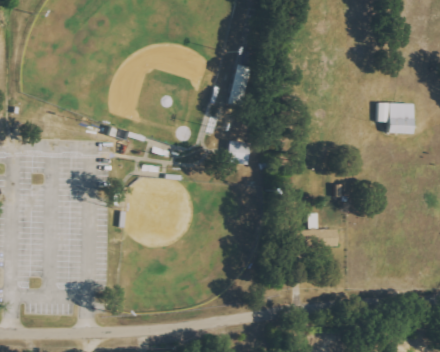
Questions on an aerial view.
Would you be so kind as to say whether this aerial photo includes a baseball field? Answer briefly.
Yes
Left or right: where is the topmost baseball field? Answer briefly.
left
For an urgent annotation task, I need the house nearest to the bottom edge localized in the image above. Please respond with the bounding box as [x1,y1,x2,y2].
[301,229,340,246]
